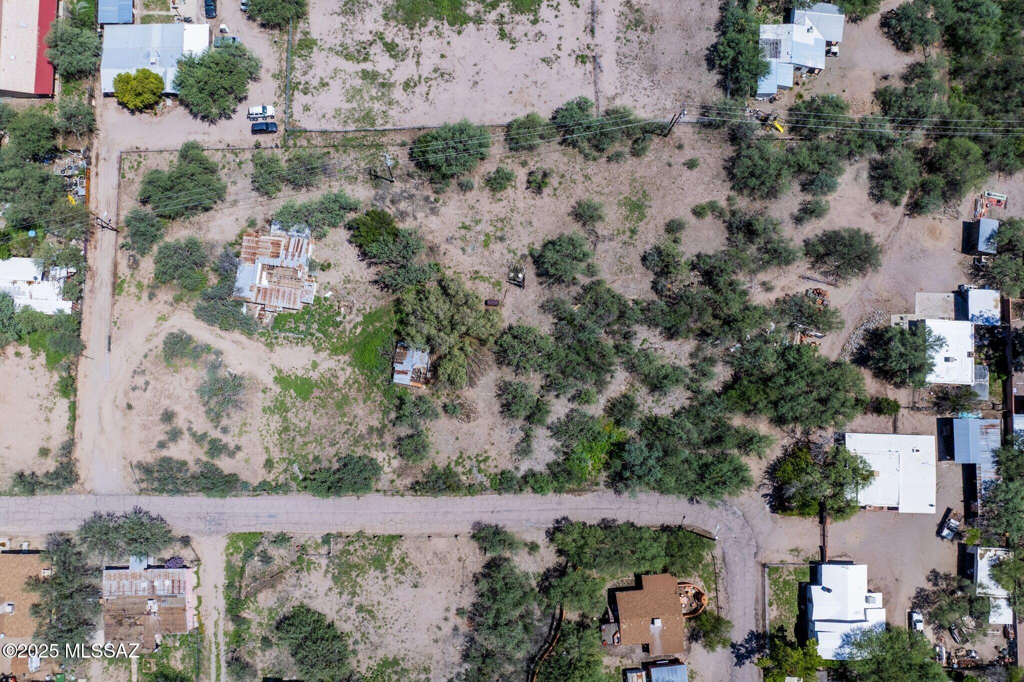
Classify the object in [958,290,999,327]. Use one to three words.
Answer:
shed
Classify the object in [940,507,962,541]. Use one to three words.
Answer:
truck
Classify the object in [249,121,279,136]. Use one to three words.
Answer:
car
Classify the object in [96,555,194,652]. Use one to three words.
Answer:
house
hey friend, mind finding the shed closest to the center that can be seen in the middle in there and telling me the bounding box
[393,343,431,388]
